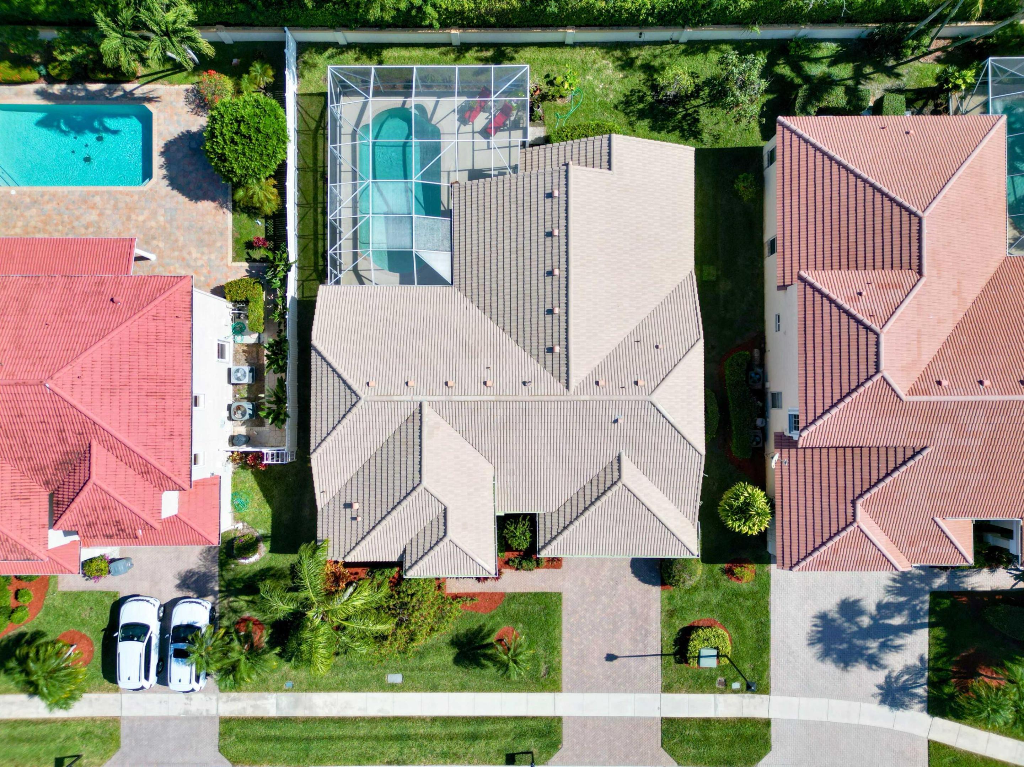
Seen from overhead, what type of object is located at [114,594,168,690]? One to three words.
car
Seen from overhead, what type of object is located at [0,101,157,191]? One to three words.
swimming pool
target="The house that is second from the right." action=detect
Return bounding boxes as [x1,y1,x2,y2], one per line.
[309,130,708,580]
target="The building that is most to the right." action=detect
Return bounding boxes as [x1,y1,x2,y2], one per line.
[762,112,1024,574]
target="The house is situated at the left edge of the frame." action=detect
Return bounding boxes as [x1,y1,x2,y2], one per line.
[0,235,247,577]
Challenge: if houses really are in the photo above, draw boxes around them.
[762,112,1024,574]
[309,130,708,580]
[0,235,247,577]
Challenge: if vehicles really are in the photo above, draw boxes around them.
[166,596,218,692]
[114,594,168,690]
